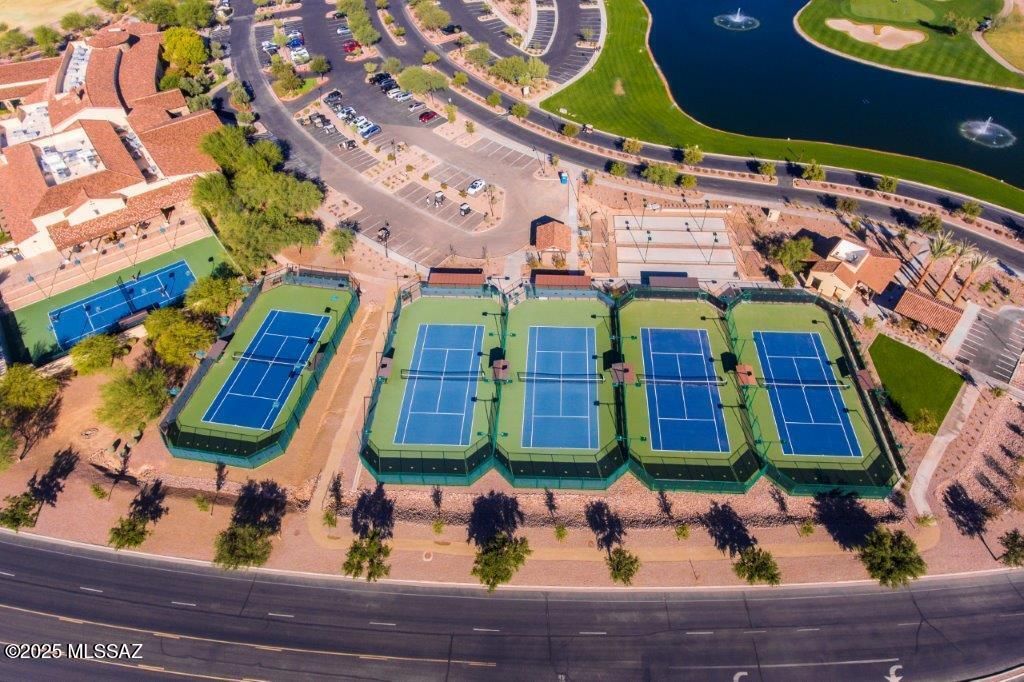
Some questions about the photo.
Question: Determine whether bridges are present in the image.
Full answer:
No, the frame has no bridge in it.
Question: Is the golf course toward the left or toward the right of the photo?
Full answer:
You can find the golf course on the right side of the picture.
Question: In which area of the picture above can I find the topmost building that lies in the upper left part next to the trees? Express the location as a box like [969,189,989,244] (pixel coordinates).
[0,23,228,261]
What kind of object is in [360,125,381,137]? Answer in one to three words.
vehicle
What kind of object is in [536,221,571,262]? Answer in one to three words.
building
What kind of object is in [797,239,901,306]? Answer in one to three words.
building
